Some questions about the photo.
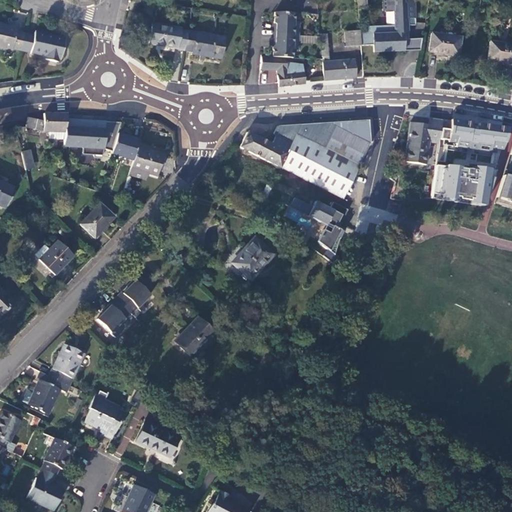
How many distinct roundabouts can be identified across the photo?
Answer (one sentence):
Looking from above, you can make out 2 roundabouts.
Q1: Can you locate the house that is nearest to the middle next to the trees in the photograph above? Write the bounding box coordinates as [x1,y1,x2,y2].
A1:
[232,236,276,281]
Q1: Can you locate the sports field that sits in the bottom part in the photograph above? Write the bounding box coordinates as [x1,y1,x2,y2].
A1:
[344,236,512,466]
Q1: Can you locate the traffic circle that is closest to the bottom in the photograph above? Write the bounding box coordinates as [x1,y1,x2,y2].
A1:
[180,92,237,148]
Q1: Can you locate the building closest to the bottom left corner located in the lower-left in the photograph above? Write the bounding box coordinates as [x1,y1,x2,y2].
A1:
[30,461,70,511]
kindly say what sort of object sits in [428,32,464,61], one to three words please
house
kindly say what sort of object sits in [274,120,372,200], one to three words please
building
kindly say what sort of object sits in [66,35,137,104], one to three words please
roundabout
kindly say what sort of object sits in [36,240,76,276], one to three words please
house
